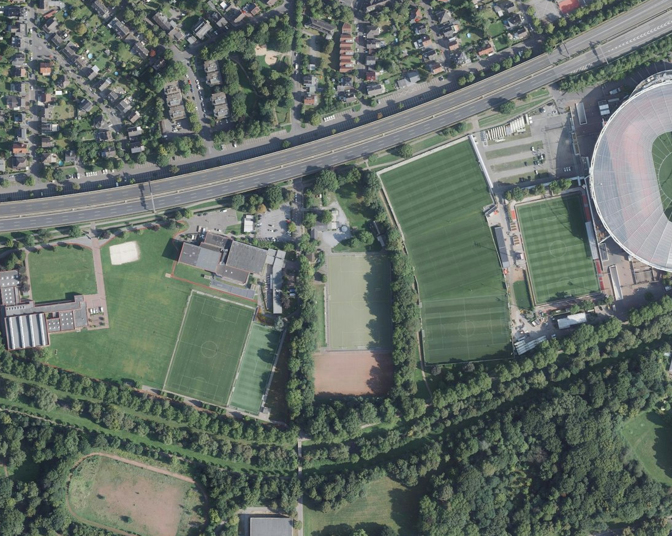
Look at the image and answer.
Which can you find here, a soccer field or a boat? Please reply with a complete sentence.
Of the two, only a soccer field appears.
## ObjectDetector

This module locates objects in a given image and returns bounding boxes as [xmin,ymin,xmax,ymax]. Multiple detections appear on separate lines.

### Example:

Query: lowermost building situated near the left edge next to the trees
[0,270,87,351]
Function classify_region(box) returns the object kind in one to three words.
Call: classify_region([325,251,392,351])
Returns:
sports field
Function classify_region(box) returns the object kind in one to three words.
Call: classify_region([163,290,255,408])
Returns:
soccer field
